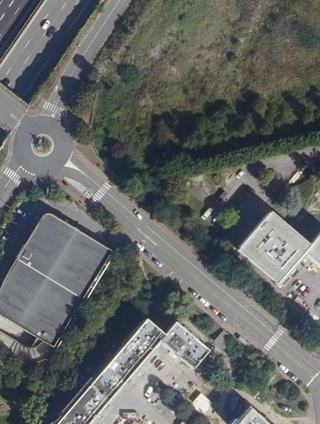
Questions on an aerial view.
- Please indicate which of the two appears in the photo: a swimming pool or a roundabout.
roundabout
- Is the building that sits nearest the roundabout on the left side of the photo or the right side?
left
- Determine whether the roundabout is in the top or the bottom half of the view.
top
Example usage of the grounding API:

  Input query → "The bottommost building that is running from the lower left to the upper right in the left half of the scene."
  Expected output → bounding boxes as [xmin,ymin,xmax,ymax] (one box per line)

[55,316,164,424]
